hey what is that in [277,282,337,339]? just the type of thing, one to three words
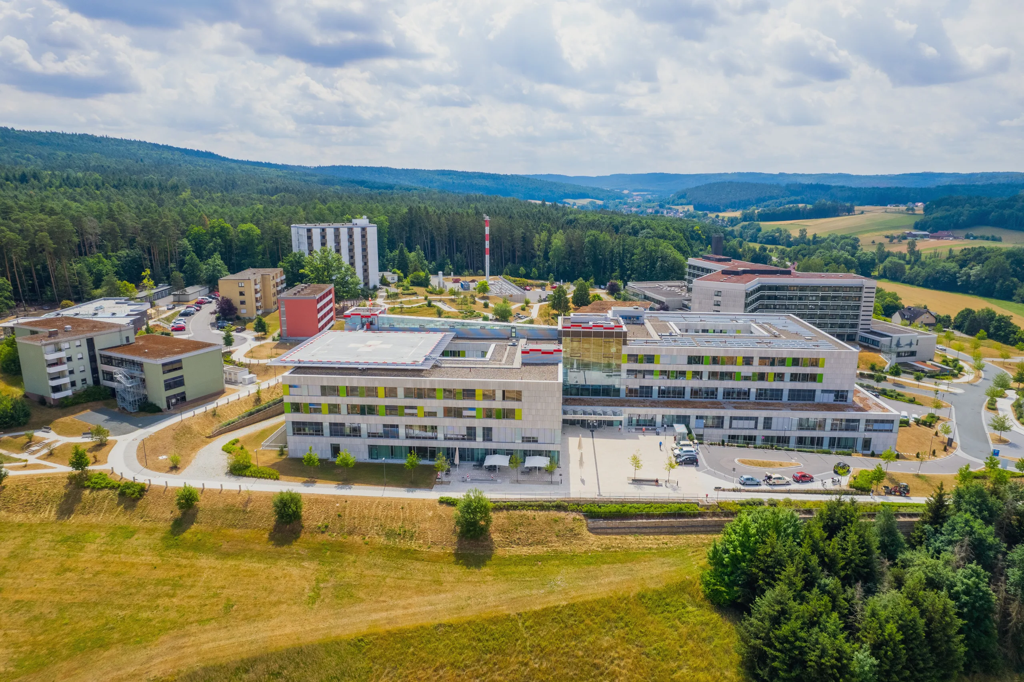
house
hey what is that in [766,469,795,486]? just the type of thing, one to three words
car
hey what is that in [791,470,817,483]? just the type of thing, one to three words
vehicle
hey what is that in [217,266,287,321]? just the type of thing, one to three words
house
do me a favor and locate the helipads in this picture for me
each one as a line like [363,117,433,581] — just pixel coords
[266,330,456,374]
